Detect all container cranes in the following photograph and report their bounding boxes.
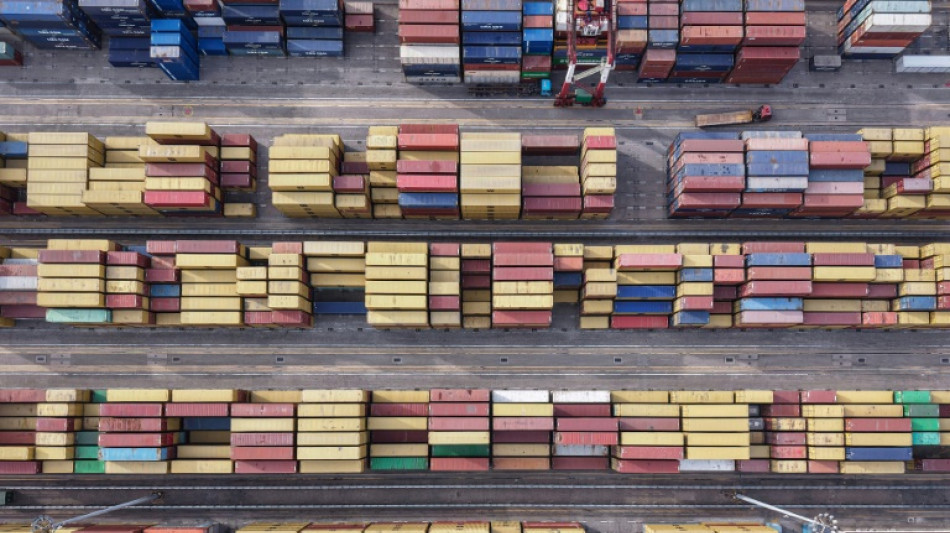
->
[553,0,619,104]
